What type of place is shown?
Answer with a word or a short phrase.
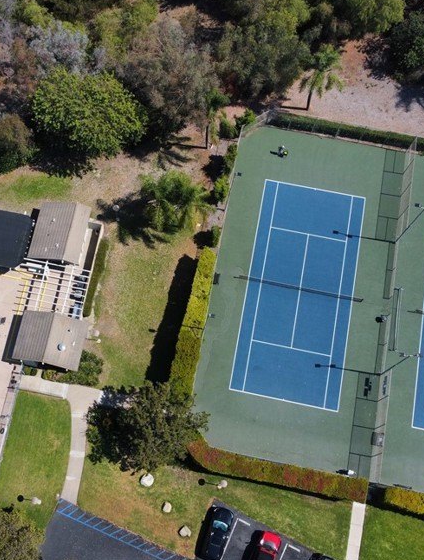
sports ground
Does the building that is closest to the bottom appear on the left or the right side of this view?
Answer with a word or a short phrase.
left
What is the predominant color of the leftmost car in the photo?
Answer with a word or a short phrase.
black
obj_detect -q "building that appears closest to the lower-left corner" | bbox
[12,310,89,371]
